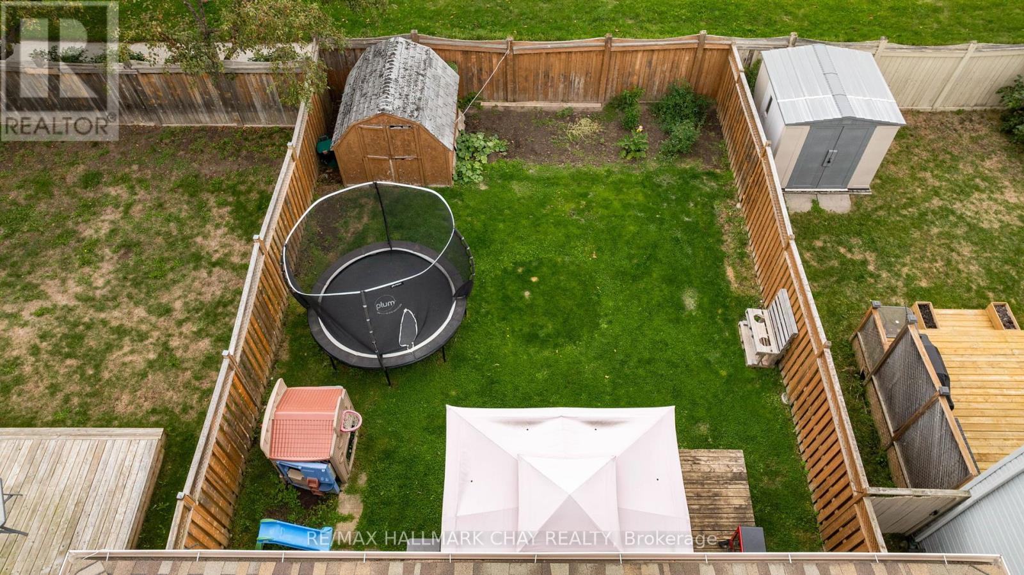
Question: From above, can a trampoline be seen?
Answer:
Yes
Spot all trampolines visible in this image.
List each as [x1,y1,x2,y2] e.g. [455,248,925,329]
[280,181,474,388]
